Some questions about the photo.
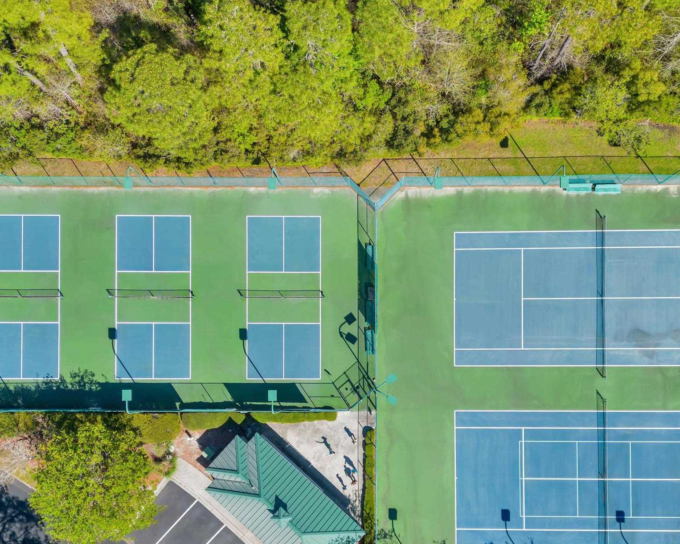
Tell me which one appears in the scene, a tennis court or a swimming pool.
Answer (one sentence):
Of the two, only a tennis court appears.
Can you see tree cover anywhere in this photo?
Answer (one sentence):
Yes, tree cover shows up in the scene.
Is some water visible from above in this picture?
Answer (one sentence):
No, there's no water in this view.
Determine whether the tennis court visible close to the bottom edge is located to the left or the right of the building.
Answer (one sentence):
Compared with the building, the tennis court visible close to the bottom edge is located further to the right.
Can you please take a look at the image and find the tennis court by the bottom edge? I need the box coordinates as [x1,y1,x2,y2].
[455,410,680,544]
